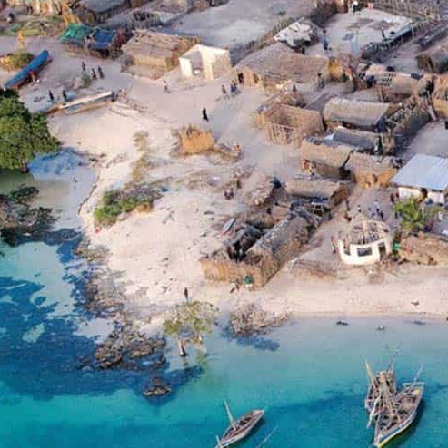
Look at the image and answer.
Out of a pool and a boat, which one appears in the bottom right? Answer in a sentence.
What appears in the bottom right is a boat.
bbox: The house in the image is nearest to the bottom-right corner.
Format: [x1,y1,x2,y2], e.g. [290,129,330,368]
[337,218,394,263]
